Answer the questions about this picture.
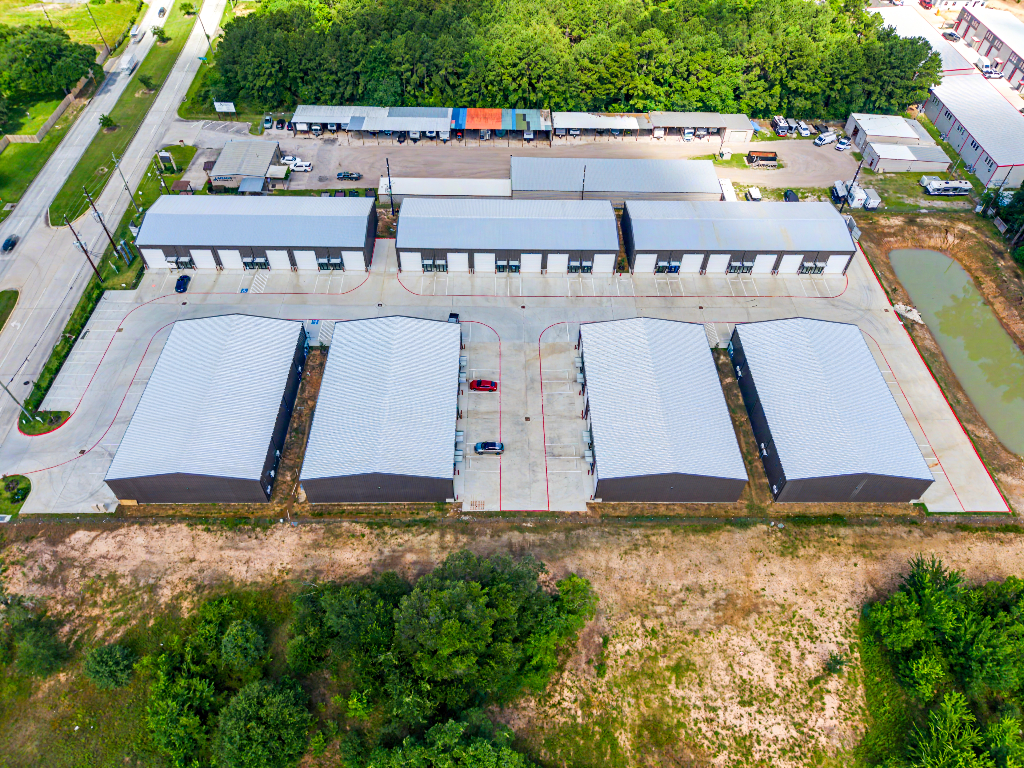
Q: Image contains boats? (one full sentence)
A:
Yes, this view includes a boat.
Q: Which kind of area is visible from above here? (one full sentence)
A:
What you see here is an industrial area.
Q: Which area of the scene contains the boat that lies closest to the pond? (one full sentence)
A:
Look in the top right portion of the view to spot the boat that lies closest to the pond.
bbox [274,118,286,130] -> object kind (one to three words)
vehicle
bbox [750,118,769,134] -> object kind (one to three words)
boat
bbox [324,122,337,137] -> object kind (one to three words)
vehicle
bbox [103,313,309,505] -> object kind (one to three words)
warehouse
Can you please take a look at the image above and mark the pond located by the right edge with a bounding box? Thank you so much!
[888,248,1024,455]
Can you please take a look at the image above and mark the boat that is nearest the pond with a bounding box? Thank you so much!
[778,181,799,201]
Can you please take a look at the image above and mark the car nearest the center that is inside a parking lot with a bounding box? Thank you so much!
[470,381,498,393]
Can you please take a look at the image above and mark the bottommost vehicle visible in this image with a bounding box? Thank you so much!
[474,443,504,458]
